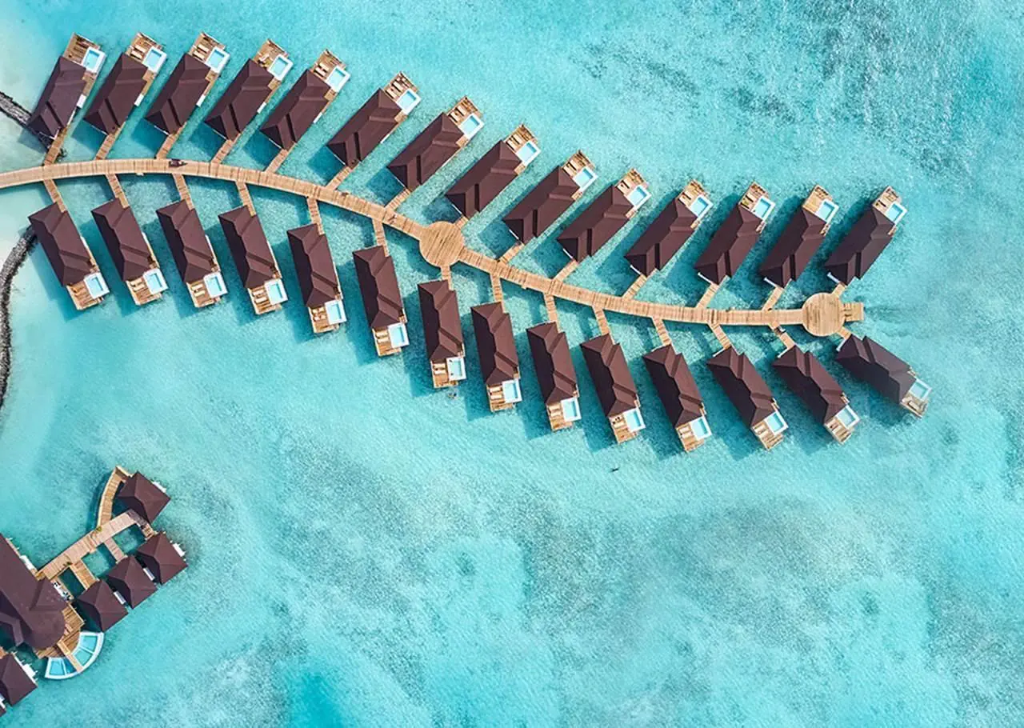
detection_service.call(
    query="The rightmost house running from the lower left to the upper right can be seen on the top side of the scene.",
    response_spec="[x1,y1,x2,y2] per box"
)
[821,184,904,285]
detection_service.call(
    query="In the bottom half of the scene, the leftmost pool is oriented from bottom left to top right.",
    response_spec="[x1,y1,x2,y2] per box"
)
[45,629,109,677]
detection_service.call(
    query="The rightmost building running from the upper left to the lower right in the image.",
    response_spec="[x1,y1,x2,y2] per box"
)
[833,335,930,420]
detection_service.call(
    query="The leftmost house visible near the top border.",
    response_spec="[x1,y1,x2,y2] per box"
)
[27,33,110,141]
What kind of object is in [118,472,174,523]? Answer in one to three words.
building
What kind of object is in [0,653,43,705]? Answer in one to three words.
building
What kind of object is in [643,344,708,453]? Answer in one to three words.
house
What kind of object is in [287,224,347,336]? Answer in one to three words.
house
